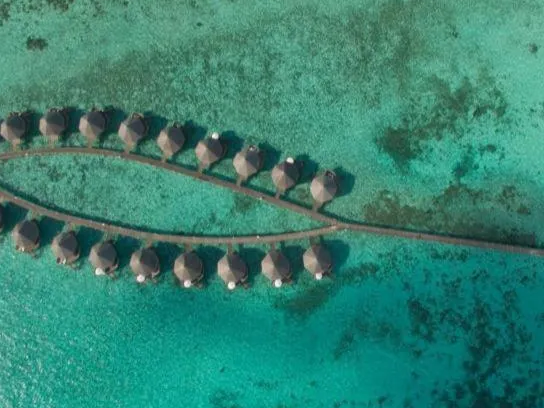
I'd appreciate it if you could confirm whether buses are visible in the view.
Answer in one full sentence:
No, the picture doesn't show any bus.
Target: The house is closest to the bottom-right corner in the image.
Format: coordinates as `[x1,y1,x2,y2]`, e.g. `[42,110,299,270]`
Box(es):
[303,245,333,278]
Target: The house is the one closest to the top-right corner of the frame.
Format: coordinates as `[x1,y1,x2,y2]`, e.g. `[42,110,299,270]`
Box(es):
[309,167,340,202]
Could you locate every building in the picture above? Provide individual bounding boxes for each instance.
[14,219,46,255]
[157,121,189,155]
[271,155,301,190]
[119,111,151,144]
[40,103,72,137]
[303,245,333,278]
[53,233,85,269]
[79,103,111,138]
[219,255,249,289]
[233,144,264,178]
[175,253,205,287]
[262,253,292,286]
[91,243,122,278]
[309,167,340,202]
[2,107,33,141]
[132,249,163,283]
[195,132,227,166]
